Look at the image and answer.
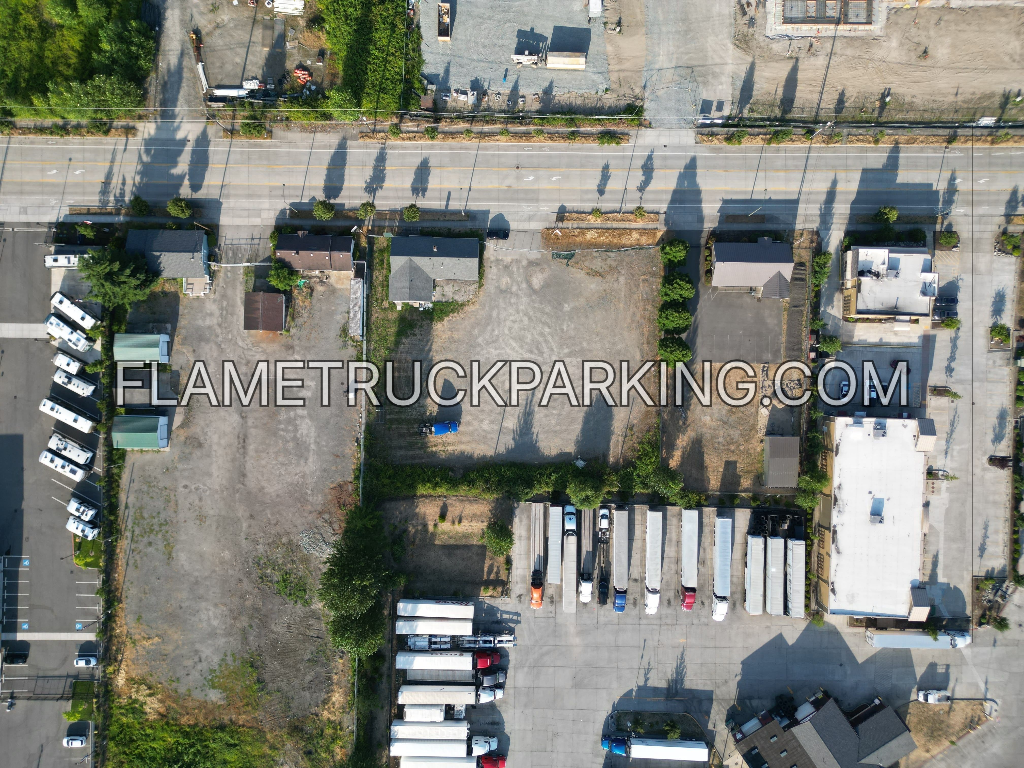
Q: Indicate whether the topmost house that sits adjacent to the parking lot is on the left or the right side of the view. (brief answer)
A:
left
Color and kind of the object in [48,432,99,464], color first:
white camper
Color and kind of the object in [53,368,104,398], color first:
white vehicle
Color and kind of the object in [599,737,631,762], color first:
blue truck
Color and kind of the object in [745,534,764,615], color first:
white trailer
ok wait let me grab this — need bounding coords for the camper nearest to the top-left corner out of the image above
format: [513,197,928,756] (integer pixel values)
[47,256,101,270]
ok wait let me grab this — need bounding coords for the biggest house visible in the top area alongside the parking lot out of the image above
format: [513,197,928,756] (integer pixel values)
[126,229,209,298]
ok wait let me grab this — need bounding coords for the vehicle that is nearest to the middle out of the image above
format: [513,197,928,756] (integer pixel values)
[419,422,460,436]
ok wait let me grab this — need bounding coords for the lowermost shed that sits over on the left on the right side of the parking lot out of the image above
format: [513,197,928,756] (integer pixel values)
[109,415,173,448]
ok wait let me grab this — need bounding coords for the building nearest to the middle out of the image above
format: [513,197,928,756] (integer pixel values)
[389,235,479,312]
